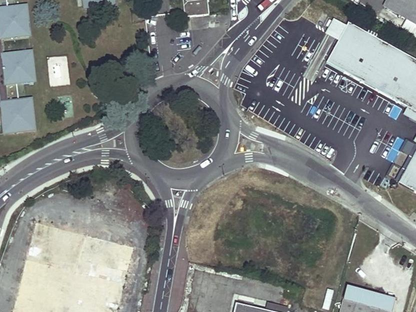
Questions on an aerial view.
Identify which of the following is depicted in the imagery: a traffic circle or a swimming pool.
traffic circle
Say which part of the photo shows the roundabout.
center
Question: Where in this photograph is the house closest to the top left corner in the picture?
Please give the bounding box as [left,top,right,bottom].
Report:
[0,2,32,39]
